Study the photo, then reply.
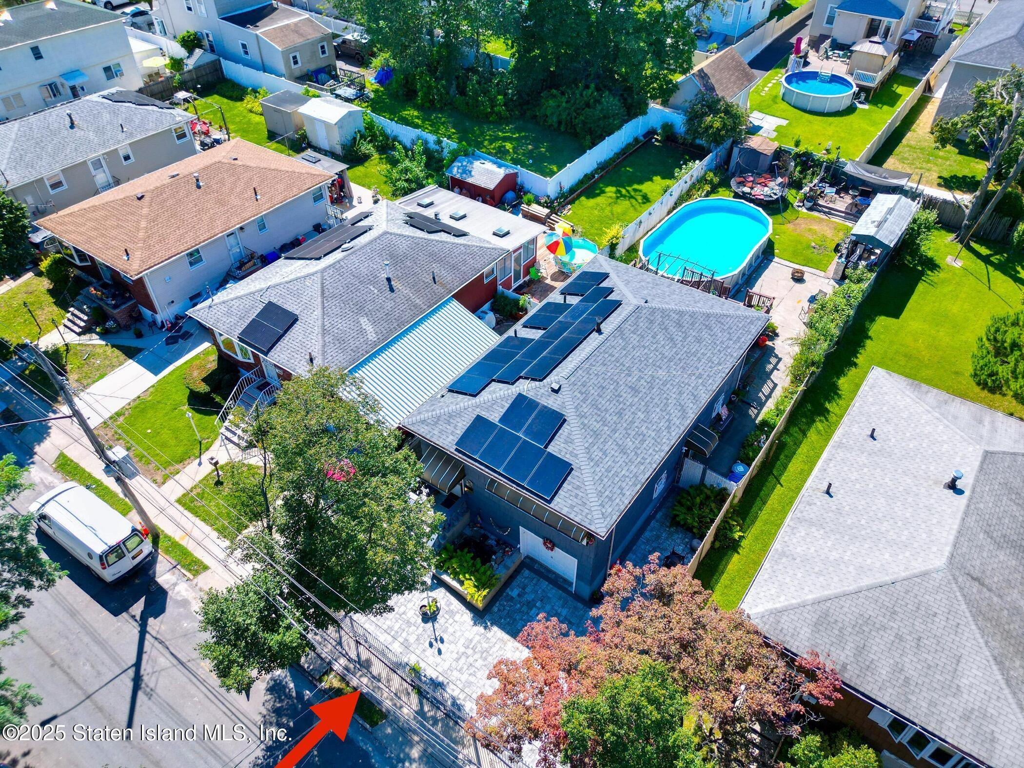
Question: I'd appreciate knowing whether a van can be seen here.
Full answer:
Yes, the picture does show a van.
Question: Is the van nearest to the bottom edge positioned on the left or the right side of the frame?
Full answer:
The van nearest to the bottom edge appears in the left half of the scene.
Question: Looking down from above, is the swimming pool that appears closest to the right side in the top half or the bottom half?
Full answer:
You can find the swimming pool that appears closest to the right side in the top half.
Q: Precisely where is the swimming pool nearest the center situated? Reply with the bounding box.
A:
[548,239,606,278]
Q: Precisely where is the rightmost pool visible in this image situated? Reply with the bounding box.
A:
[780,69,859,112]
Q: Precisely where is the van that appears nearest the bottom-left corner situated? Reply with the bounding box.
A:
[39,480,159,590]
